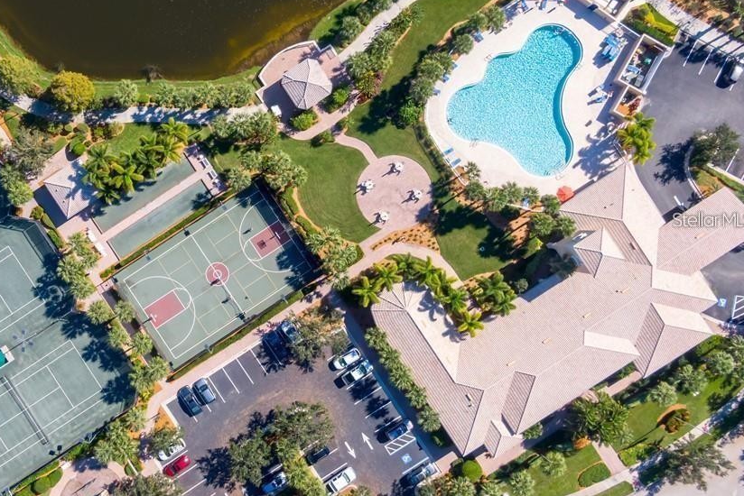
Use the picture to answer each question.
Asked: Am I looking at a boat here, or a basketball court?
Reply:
basketball court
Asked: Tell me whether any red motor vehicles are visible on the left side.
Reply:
Yes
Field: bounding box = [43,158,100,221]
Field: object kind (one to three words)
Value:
building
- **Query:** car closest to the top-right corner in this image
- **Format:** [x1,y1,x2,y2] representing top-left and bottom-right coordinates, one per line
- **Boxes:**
[724,56,744,86]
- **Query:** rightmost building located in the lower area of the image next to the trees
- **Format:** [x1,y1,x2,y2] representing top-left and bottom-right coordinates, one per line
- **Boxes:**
[370,164,744,458]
